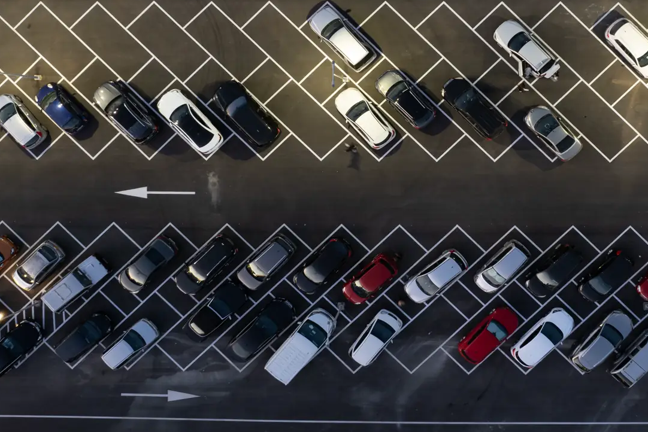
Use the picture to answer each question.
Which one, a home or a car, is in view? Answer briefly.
car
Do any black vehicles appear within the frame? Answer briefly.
Yes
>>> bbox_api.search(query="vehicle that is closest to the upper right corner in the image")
[601,15,648,80]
